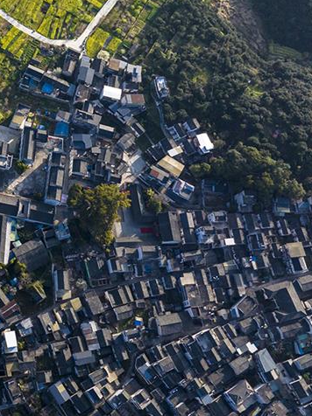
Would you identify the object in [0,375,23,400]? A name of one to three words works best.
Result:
house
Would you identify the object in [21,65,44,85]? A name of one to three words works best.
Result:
house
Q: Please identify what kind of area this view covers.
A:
residential area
